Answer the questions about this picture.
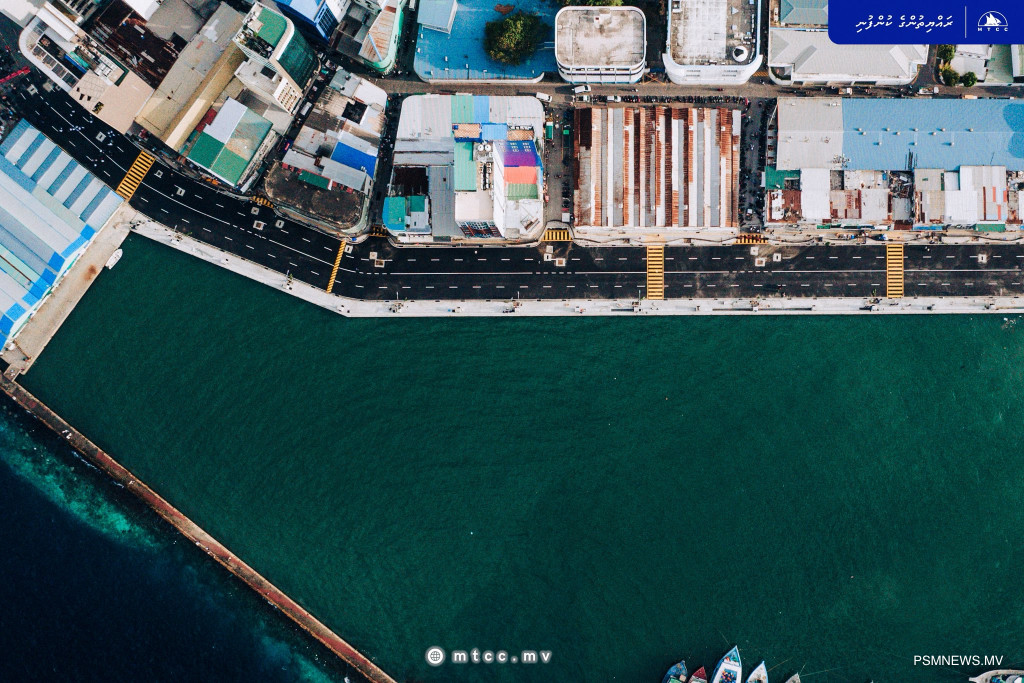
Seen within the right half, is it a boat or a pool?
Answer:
boat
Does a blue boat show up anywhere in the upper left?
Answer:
No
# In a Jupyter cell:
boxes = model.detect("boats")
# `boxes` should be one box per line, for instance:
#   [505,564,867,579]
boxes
[970,668,1024,683]
[711,644,742,683]
[781,671,798,683]
[658,660,685,683]
[687,665,705,683]
[106,249,122,270]
[741,660,765,683]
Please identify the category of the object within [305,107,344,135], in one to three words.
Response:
house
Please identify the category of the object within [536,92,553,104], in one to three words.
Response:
vehicle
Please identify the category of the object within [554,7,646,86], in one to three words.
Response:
building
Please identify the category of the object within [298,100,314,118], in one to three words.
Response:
vehicle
